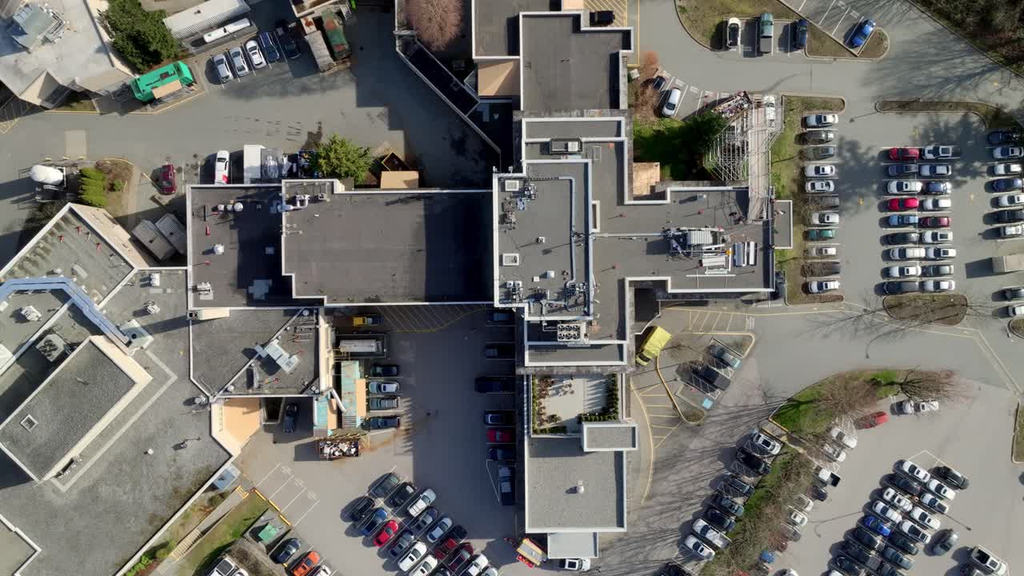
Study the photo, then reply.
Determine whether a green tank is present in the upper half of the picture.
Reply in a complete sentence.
No, there's no green tank to be seen in the upper half of the picture.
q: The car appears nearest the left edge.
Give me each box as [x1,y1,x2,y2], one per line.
[160,164,177,195]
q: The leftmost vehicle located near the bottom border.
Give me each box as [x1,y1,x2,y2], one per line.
[212,553,246,576]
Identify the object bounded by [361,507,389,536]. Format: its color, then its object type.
blue car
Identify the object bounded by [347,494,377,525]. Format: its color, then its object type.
black truck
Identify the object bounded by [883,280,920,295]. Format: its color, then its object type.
gray vehicle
